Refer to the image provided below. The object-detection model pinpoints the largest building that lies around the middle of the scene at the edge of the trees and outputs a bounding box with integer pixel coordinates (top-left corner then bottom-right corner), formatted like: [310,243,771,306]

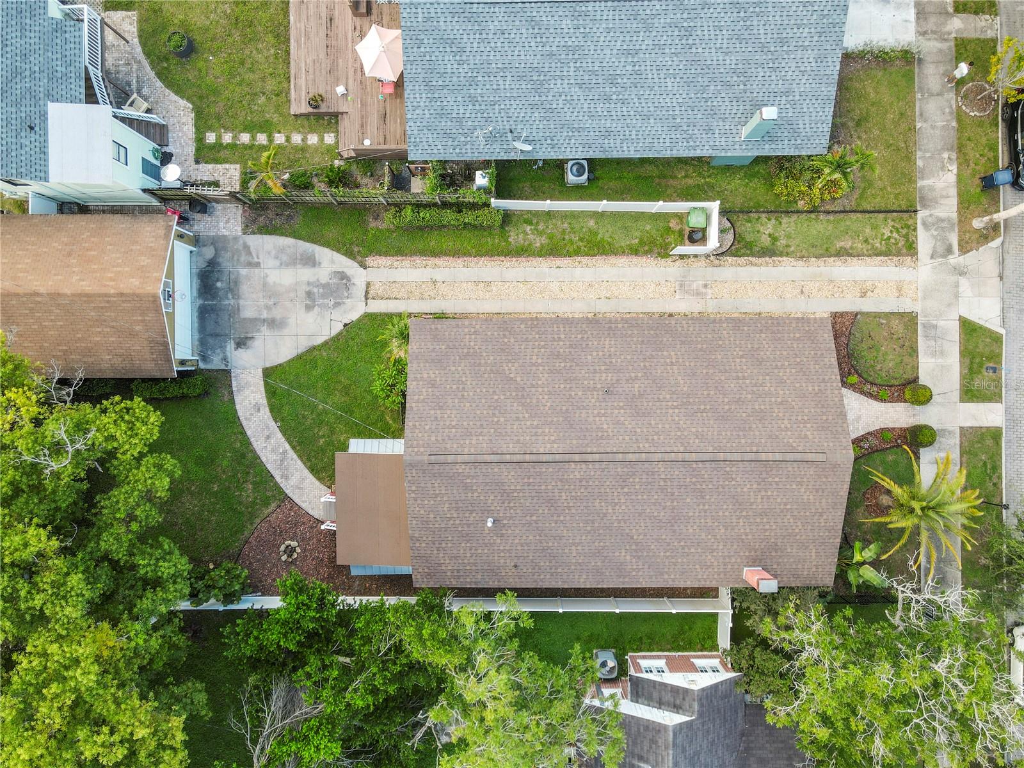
[335,312,855,594]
